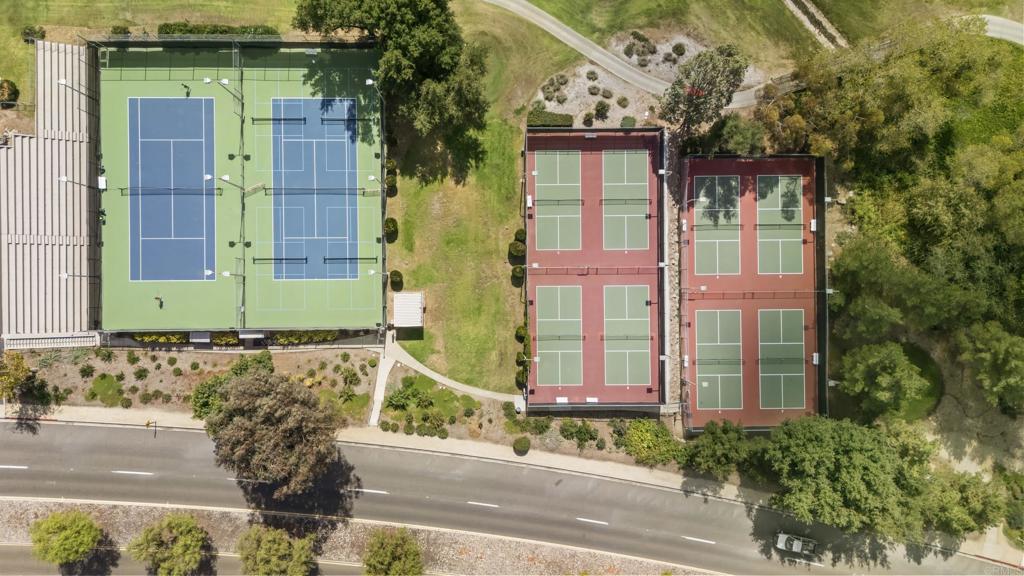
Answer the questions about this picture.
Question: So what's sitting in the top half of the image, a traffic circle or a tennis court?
tennis court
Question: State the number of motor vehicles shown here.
1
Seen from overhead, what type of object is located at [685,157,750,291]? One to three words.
sports court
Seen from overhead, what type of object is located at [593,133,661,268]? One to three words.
sports court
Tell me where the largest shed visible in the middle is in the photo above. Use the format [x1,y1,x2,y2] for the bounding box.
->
[394,292,427,327]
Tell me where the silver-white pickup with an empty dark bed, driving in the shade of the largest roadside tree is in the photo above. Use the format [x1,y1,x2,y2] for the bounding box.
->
[774,532,817,554]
